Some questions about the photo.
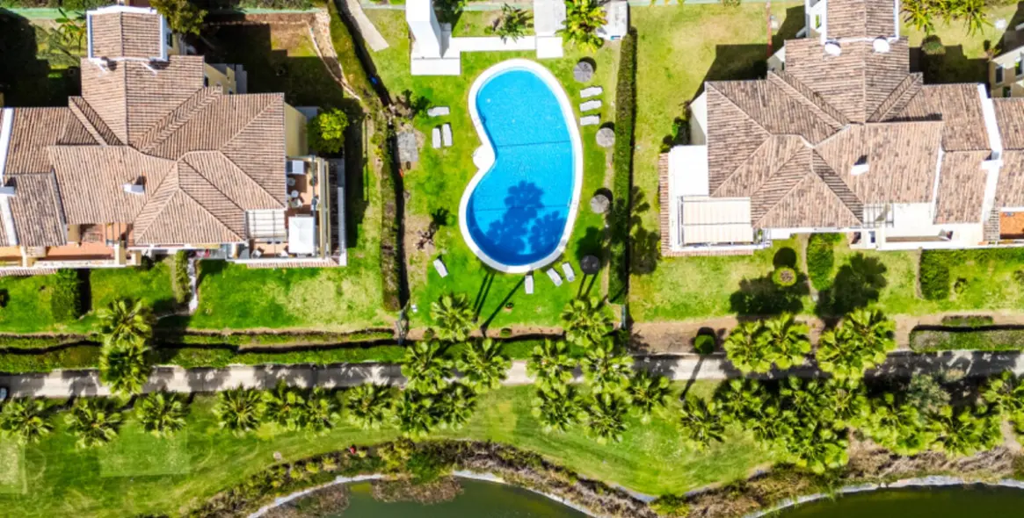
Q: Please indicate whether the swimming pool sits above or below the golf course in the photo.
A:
above it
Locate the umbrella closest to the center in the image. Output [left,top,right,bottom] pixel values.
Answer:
[579,253,601,275]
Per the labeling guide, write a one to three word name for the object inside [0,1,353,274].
house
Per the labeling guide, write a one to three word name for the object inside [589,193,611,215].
umbrella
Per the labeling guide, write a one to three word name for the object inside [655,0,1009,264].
house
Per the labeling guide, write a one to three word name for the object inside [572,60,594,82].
umbrella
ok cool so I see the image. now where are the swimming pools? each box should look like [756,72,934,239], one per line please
[459,58,583,272]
